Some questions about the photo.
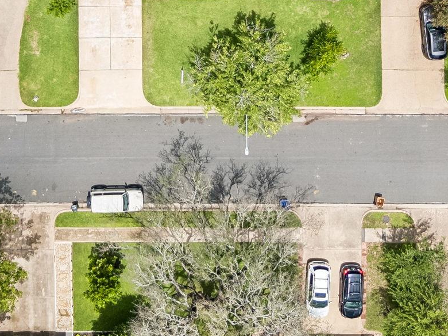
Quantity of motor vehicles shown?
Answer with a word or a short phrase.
4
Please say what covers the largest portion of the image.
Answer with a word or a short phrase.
paved ground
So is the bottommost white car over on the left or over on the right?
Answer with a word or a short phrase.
right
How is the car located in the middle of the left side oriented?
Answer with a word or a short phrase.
from side to side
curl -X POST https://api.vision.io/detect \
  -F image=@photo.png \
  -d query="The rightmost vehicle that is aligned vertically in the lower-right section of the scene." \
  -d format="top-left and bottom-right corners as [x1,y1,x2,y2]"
[338,260,364,315]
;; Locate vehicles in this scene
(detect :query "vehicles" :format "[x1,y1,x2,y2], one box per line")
[338,260,364,315]
[417,3,446,60]
[86,184,141,212]
[306,258,332,316]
